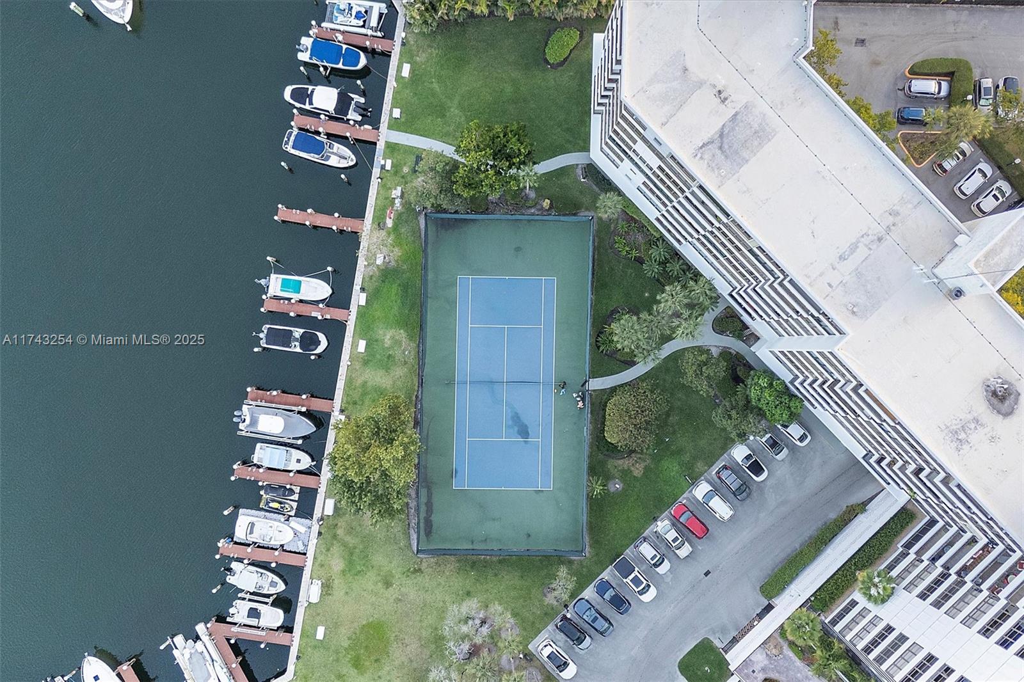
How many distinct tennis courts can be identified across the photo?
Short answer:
one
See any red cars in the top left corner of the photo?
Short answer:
No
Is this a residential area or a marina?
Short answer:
marina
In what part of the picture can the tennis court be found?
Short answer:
center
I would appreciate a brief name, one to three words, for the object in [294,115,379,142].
pier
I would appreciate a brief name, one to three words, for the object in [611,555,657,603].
truck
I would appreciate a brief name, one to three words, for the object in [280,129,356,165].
boat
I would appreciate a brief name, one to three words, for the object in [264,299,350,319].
pier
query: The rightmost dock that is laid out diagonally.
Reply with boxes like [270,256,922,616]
[207,629,251,682]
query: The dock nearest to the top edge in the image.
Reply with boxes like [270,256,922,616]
[315,27,394,51]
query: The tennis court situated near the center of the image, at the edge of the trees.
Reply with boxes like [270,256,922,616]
[421,220,589,547]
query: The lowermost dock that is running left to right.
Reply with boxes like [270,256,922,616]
[210,621,293,645]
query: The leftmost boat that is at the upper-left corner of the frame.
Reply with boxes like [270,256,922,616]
[92,0,130,29]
